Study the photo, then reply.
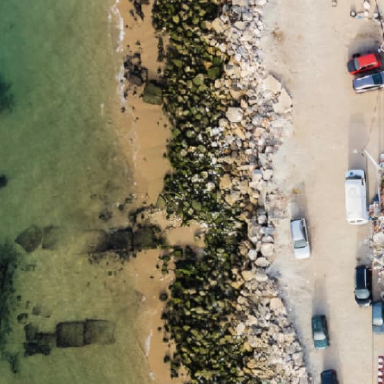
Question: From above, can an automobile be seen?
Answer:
Yes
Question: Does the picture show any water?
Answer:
Yes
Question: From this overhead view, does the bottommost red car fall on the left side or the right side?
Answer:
right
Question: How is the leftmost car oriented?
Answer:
from top to bottom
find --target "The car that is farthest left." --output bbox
[291,218,312,258]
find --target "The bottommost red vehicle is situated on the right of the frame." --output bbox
[347,54,384,74]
